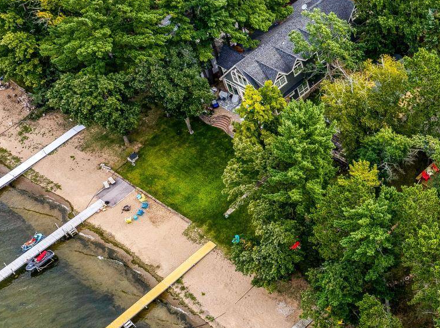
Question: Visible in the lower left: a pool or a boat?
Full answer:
The feature located in the lower left is a boat.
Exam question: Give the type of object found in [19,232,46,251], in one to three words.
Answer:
boat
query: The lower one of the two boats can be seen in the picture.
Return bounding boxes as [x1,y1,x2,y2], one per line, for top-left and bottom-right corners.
[28,250,57,276]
